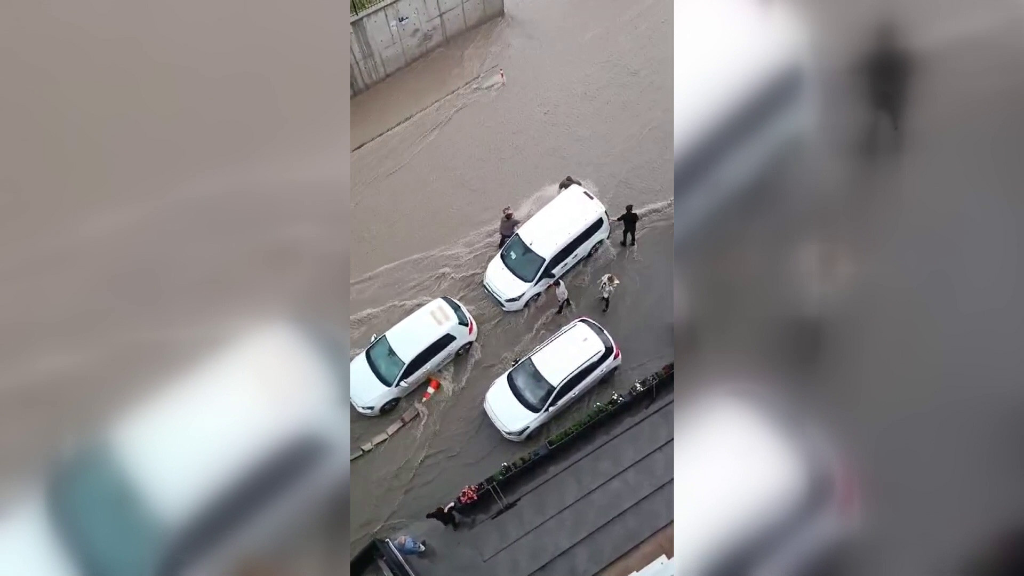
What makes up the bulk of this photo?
water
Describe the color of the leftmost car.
white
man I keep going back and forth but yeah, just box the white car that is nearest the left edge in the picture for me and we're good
[342,297,476,414]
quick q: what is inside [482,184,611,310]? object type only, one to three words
vehicle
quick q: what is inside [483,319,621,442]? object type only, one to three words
car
